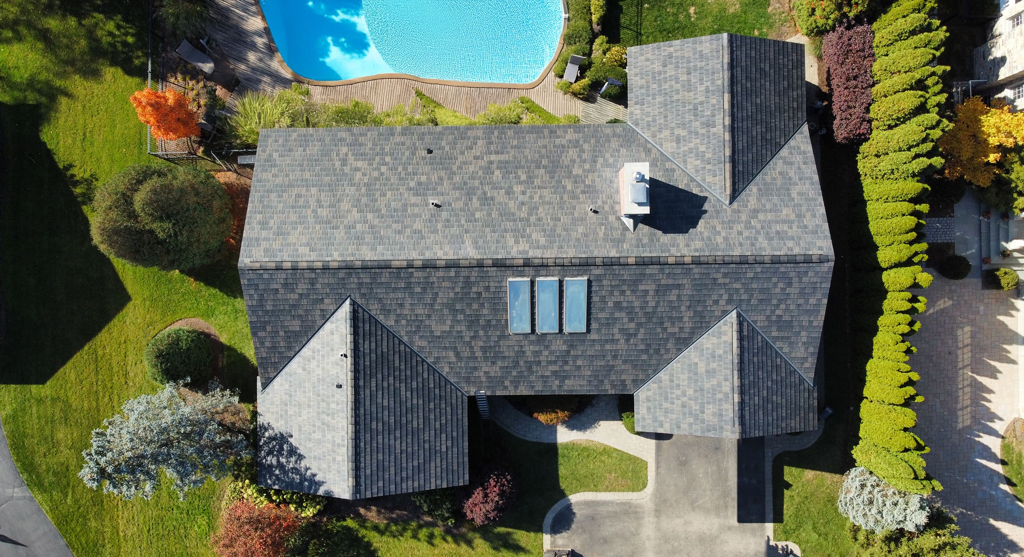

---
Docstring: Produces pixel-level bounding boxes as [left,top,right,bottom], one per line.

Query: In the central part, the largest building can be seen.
[237,32,836,500]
